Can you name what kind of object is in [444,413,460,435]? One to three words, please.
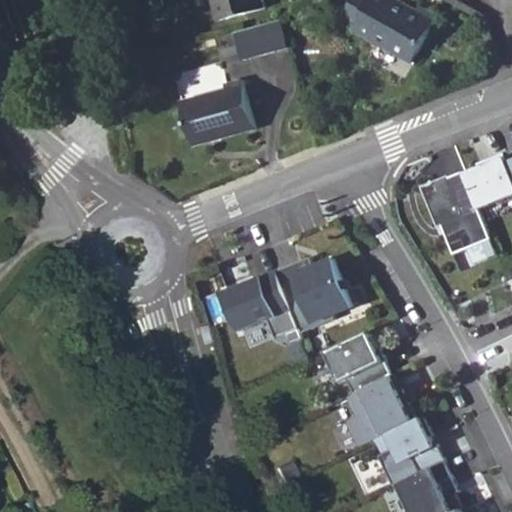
car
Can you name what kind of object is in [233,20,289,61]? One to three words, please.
building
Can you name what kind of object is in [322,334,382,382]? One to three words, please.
house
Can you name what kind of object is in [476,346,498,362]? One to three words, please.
car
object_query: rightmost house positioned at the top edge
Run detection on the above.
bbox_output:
[348,0,435,62]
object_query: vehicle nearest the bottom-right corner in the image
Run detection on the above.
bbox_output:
[473,472,492,500]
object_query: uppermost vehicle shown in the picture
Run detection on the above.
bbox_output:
[251,224,264,246]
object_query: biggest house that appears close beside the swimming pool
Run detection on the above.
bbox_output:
[218,277,278,332]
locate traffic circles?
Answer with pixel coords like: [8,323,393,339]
[80,196,184,305]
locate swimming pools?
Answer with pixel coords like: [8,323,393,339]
[206,294,225,324]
